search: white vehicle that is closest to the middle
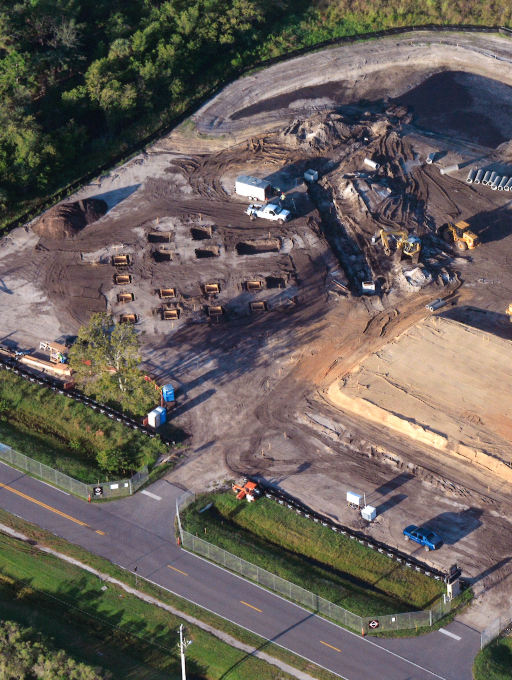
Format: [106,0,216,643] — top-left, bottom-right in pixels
[248,202,293,224]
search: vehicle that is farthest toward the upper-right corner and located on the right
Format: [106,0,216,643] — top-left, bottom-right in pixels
[435,219,481,251]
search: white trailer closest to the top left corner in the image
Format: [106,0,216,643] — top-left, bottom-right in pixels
[228,174,279,204]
